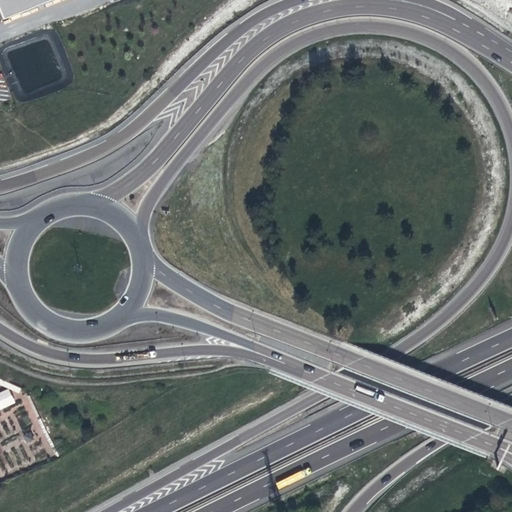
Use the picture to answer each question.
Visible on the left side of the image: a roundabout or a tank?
roundabout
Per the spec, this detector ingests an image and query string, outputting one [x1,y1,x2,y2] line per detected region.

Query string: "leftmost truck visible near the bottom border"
[278,467,312,490]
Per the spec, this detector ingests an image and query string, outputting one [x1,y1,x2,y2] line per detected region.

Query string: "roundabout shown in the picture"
[3,190,156,344]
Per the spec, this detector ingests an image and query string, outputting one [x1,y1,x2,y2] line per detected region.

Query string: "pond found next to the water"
[0,30,72,100]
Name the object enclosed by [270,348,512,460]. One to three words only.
bridge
